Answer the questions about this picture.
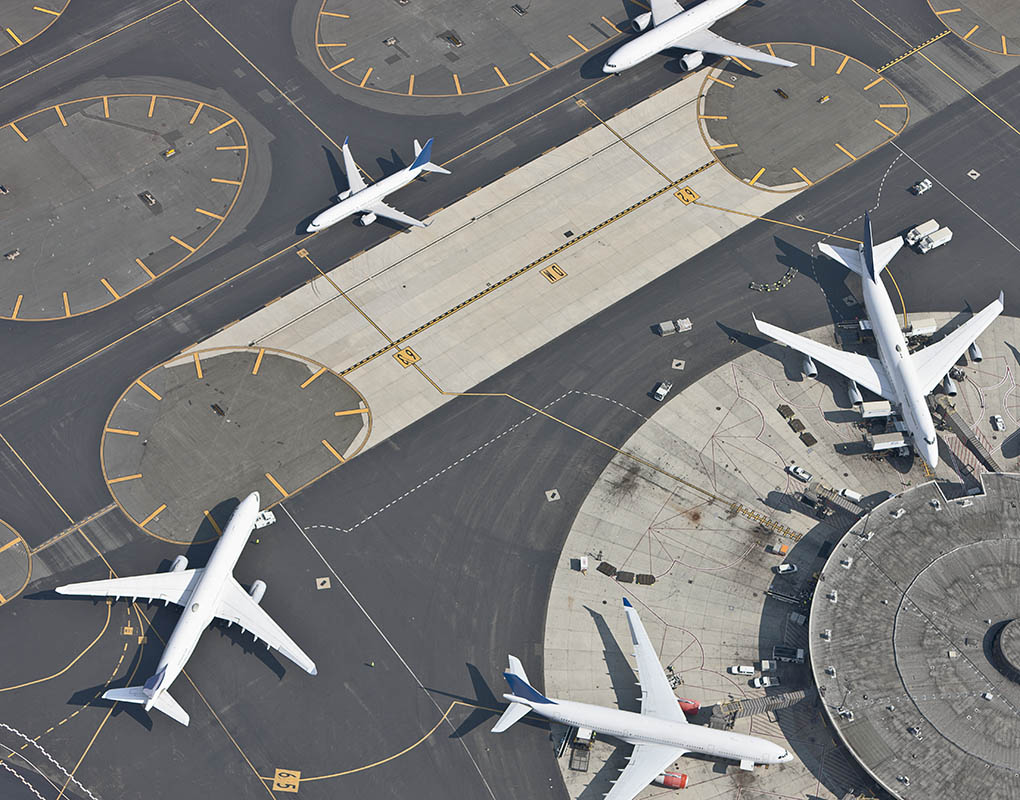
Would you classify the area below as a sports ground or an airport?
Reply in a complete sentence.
This looks like an airport.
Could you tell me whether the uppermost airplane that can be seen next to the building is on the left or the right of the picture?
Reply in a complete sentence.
The uppermost airplane that can be seen next to the building appears in the right half of the scene.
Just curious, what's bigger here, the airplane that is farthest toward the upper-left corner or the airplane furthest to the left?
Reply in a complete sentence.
The airplane furthest to the left is larger than the airplane that is farthest toward the upper-left corner.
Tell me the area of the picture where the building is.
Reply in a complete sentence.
The building sits in the bottom right section of the image.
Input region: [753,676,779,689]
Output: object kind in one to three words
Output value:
vehicle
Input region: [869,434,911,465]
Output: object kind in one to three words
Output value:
truck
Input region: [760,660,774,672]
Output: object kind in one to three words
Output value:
vehicle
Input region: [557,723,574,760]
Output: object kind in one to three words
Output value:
work vehicle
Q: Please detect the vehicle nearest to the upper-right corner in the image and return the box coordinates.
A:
[911,181,932,194]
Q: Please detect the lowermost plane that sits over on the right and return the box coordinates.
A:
[491,595,791,800]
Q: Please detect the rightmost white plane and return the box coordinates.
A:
[755,208,1005,469]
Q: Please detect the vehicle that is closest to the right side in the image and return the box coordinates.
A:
[993,414,1009,432]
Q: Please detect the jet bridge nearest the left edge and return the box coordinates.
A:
[706,684,820,730]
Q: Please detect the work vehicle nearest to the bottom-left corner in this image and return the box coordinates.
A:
[254,512,278,530]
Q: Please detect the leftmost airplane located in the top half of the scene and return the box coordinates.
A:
[308,137,448,234]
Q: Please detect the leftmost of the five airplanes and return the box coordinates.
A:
[56,489,318,727]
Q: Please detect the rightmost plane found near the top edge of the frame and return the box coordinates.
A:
[601,0,796,79]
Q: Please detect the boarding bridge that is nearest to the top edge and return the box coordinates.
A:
[926,400,1006,473]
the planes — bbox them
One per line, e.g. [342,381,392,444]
[755,208,1005,469]
[308,137,448,234]
[56,489,318,727]
[491,595,791,800]
[601,0,796,79]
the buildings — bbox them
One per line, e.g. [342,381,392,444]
[807,472,1020,800]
